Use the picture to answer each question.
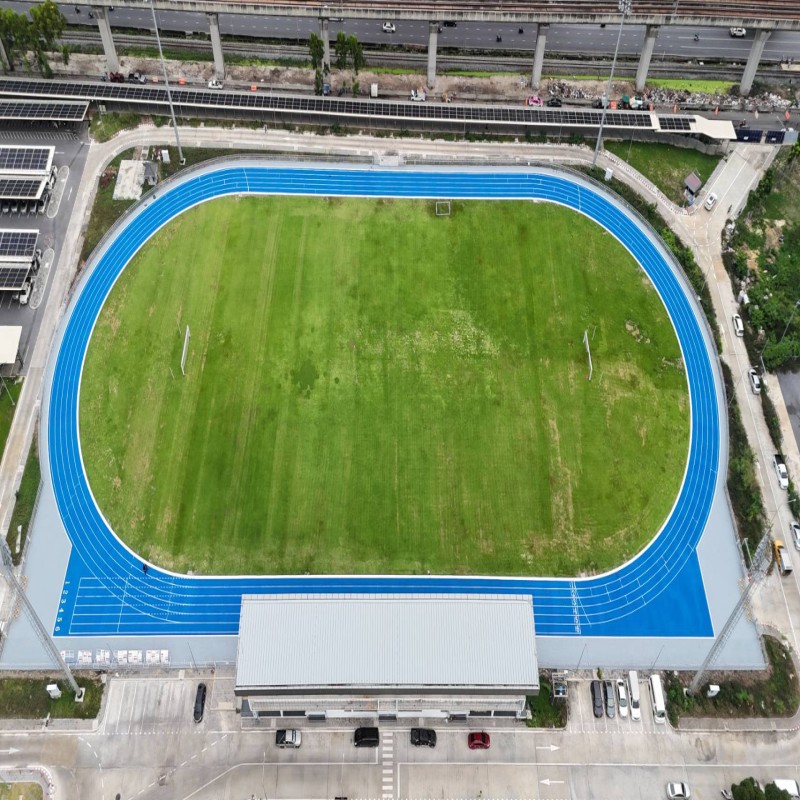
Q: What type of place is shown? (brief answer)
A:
sports ground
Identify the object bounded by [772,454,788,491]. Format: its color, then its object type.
white vehicle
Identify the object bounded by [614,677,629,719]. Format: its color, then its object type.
white car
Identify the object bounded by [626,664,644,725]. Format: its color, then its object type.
white vehicle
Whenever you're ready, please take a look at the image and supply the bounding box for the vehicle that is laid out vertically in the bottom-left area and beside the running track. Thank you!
[192,681,206,725]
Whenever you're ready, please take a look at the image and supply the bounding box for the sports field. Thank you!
[78,194,690,577]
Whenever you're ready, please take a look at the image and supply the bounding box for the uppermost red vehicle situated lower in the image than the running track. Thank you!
[467,731,491,751]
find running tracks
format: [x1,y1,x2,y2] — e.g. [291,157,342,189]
[0,159,767,670]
